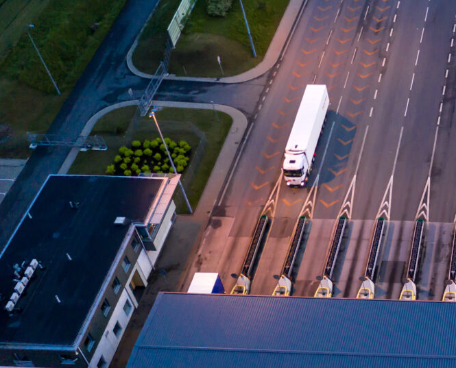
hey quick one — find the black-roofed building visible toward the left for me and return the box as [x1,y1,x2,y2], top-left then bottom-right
[0,175,185,368]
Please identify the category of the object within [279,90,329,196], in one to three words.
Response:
truck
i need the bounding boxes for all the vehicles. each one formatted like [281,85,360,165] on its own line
[279,90,329,196]
[188,272,225,292]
